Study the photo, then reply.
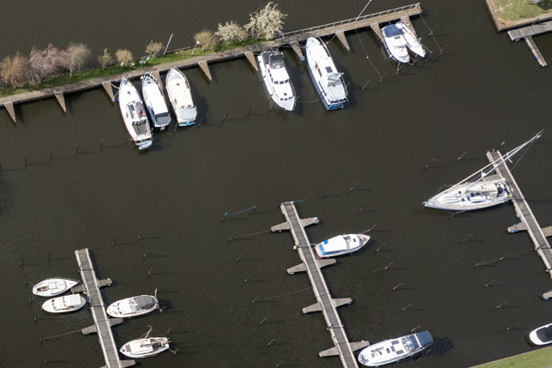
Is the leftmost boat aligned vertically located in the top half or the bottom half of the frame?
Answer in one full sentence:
You can find the leftmost boat aligned vertically in the top half.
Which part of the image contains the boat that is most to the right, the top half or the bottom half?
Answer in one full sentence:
The boat that is most to the right is in the bottom half of the image.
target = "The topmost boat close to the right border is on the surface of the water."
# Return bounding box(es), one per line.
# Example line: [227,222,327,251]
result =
[424,135,543,211]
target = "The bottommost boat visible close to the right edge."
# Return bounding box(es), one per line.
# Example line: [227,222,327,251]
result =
[527,320,552,341]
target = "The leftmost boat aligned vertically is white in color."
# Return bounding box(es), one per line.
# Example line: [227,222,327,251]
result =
[120,75,146,143]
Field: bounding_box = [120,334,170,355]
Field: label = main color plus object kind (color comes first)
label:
white boat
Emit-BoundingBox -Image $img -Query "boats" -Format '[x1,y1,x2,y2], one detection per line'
[120,334,170,355]
[42,294,87,312]
[256,50,295,112]
[527,320,552,341]
[398,20,428,58]
[307,33,346,117]
[311,233,372,260]
[31,277,78,296]
[144,73,170,132]
[357,329,439,363]
[169,64,197,130]
[424,135,543,211]
[107,294,160,318]
[120,75,146,143]
[381,25,409,65]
